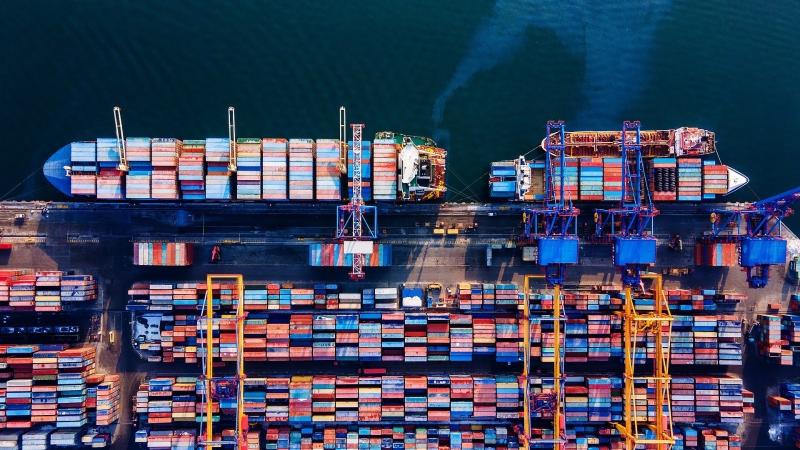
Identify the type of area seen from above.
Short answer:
port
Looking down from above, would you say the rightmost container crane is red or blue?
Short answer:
blue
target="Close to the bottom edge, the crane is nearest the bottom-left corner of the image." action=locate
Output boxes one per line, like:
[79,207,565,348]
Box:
[196,277,253,450]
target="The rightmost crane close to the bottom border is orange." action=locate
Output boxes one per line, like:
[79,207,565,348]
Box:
[610,277,674,450]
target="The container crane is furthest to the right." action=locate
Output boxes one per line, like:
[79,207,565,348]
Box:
[688,180,800,288]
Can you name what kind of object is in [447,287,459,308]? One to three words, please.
vehicle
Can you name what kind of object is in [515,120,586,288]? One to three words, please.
container crane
